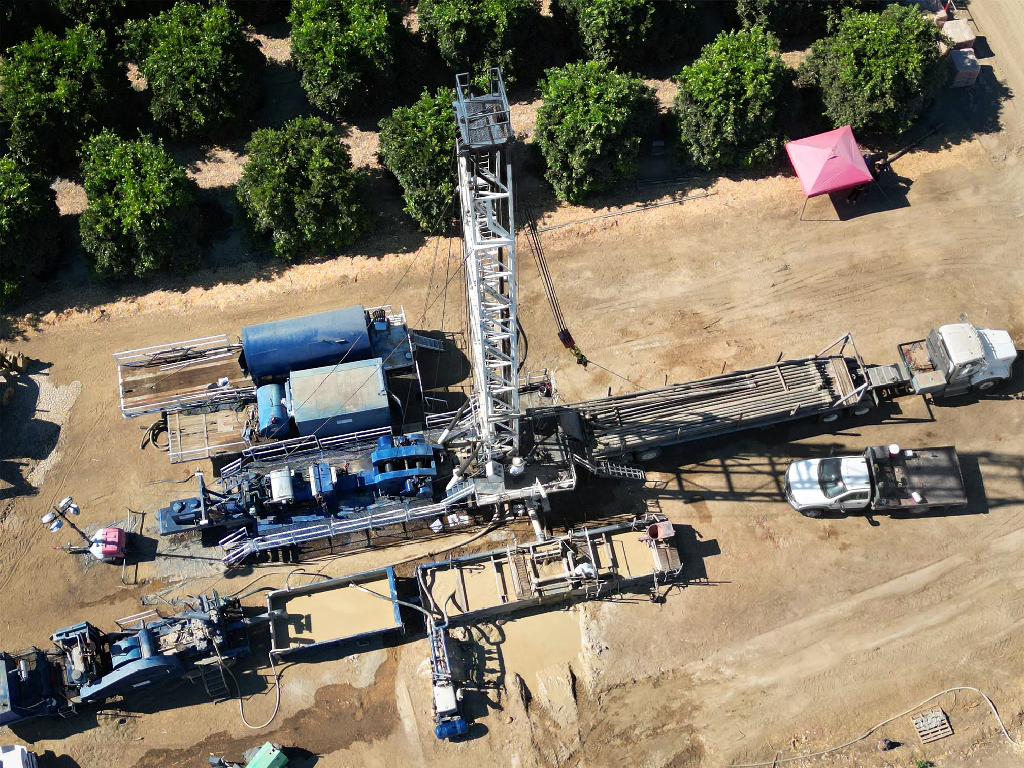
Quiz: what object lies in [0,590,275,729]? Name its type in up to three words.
trailer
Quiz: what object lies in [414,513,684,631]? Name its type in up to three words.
storage tank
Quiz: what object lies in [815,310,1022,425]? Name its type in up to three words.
truck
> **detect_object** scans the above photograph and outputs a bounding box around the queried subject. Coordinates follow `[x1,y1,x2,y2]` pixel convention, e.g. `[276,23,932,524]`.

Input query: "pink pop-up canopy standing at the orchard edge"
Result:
[781,126,892,221]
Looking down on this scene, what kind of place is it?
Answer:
industrial area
